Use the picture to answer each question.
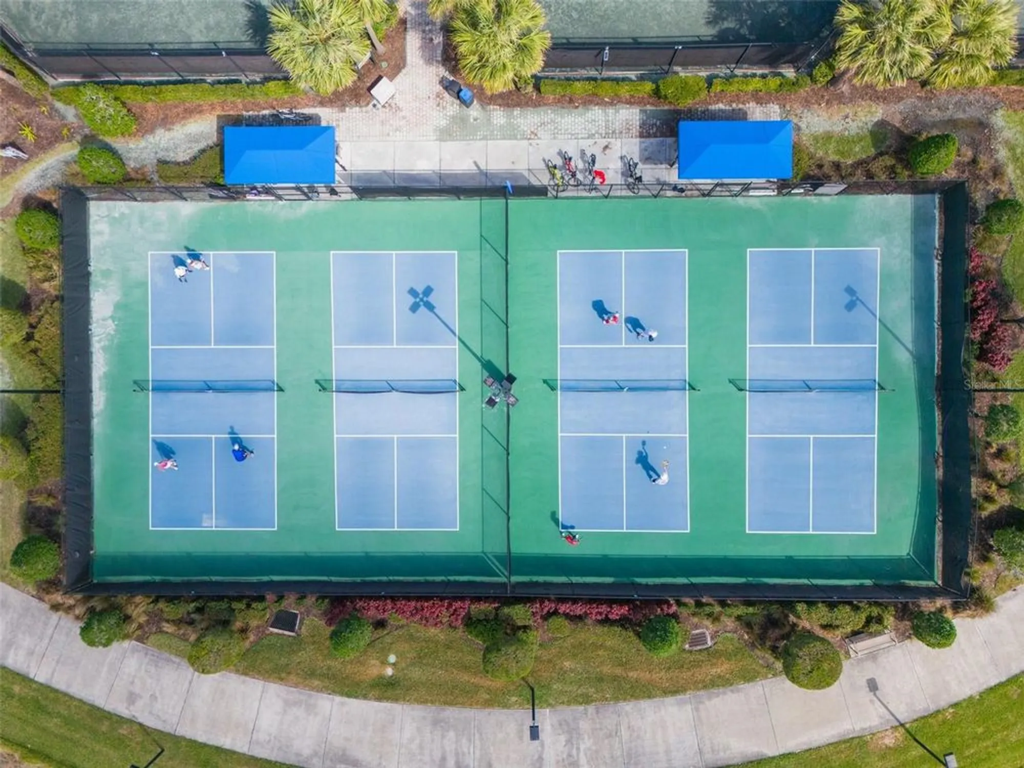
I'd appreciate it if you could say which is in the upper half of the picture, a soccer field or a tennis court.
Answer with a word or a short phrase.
tennis court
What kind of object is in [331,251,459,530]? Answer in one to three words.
sports court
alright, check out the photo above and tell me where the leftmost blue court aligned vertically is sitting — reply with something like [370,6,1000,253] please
[149,251,277,530]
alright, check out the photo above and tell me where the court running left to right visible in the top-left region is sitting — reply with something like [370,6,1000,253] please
[0,0,328,78]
